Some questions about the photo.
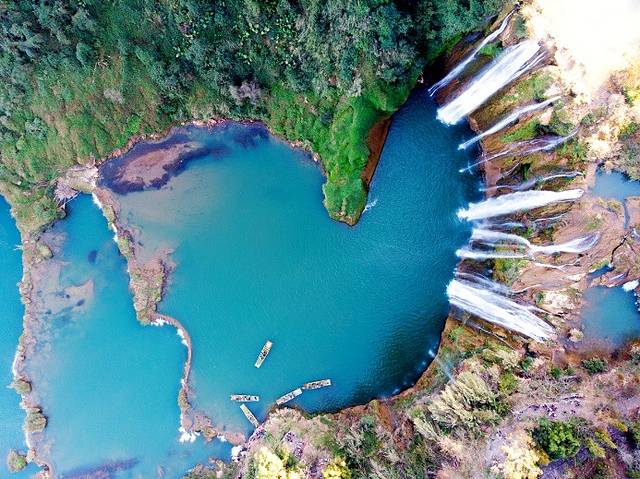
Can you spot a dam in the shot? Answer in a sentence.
Yes, there's a dam here.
